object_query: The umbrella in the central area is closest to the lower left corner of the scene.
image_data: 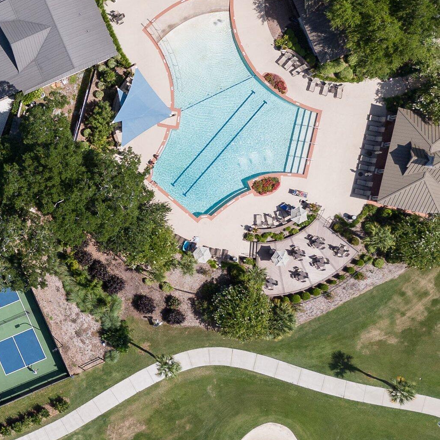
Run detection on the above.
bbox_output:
[191,246,211,264]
